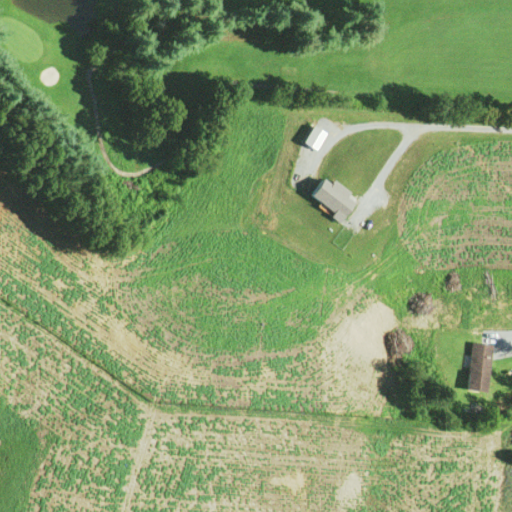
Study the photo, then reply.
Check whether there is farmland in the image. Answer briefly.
Yes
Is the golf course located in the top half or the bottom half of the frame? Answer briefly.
top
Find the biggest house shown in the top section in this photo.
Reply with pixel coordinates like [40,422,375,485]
[312,179,358,228]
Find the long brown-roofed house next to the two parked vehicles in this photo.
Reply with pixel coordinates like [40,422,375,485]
[460,343,494,394]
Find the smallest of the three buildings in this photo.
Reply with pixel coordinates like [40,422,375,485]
[305,125,329,150]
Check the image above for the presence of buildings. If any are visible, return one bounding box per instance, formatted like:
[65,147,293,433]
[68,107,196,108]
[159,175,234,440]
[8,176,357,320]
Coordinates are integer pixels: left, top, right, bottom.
[460,343,494,394]
[305,125,329,150]
[312,179,358,228]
